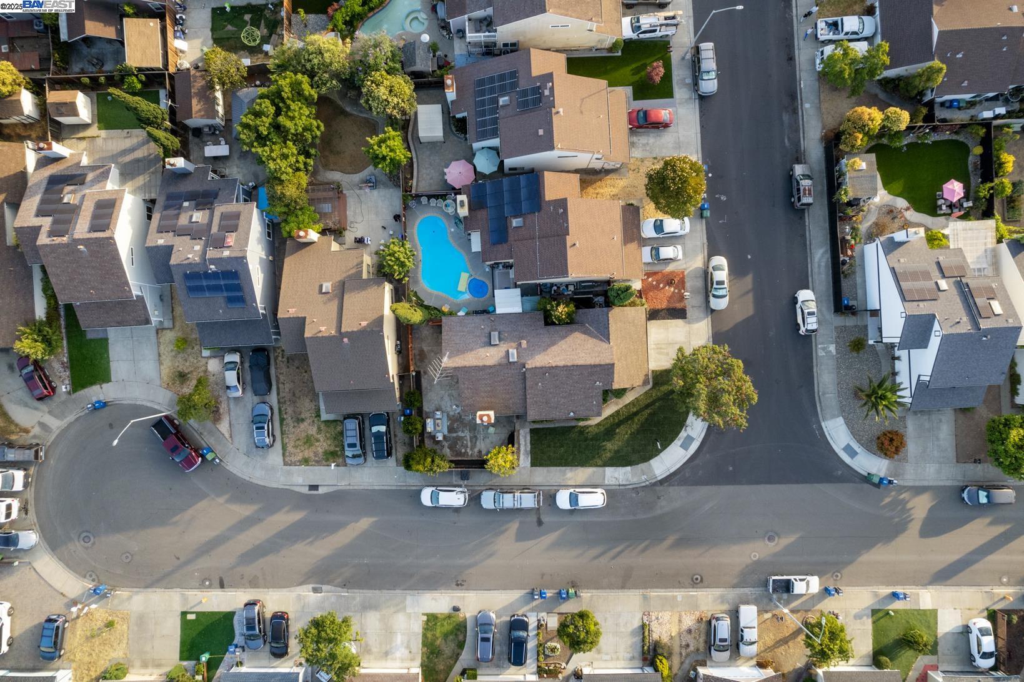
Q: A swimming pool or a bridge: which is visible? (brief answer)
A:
swimming pool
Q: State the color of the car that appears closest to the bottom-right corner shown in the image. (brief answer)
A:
white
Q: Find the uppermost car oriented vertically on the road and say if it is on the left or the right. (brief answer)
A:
right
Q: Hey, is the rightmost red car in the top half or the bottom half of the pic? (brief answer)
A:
top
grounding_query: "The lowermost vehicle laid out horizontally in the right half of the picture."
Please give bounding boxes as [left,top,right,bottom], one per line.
[766,572,820,597]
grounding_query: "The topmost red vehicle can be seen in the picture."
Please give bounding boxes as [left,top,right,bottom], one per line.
[629,106,676,130]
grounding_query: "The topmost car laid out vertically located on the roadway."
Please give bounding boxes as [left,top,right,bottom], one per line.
[694,40,720,97]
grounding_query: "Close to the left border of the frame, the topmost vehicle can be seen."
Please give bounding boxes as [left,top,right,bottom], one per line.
[17,356,57,403]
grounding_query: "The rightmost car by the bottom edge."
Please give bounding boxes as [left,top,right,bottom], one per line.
[967,616,998,670]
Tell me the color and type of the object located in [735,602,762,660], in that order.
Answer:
white truck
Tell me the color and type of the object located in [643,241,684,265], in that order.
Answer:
white car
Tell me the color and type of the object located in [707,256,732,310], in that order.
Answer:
white car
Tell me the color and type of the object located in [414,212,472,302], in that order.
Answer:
blue swimming pool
